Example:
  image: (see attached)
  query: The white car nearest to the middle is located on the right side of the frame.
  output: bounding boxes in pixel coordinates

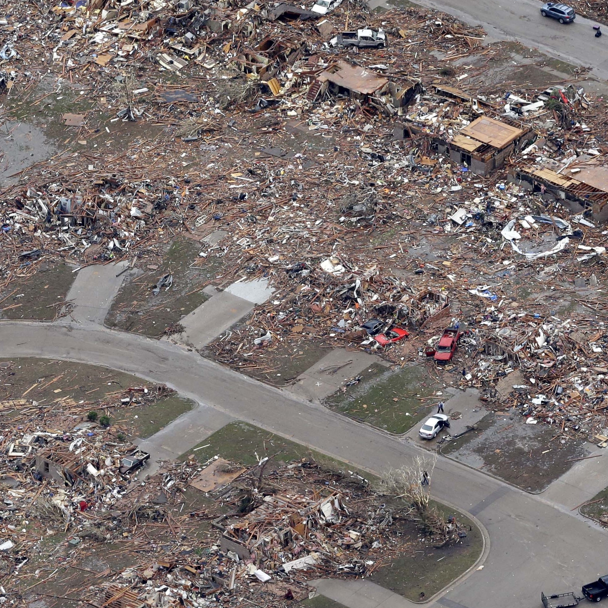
[418,415,449,440]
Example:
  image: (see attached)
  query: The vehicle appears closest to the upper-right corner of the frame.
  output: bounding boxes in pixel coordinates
[538,1,577,23]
